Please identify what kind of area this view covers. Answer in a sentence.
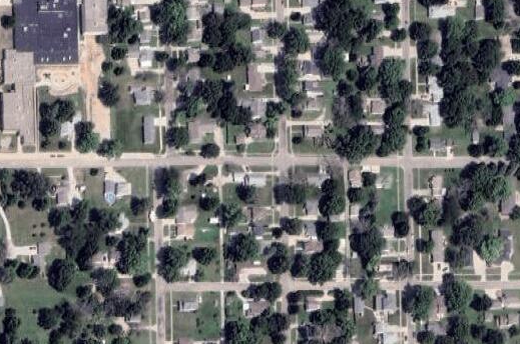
It's a residential area.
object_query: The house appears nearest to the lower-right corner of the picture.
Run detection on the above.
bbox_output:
[497,314,520,330]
